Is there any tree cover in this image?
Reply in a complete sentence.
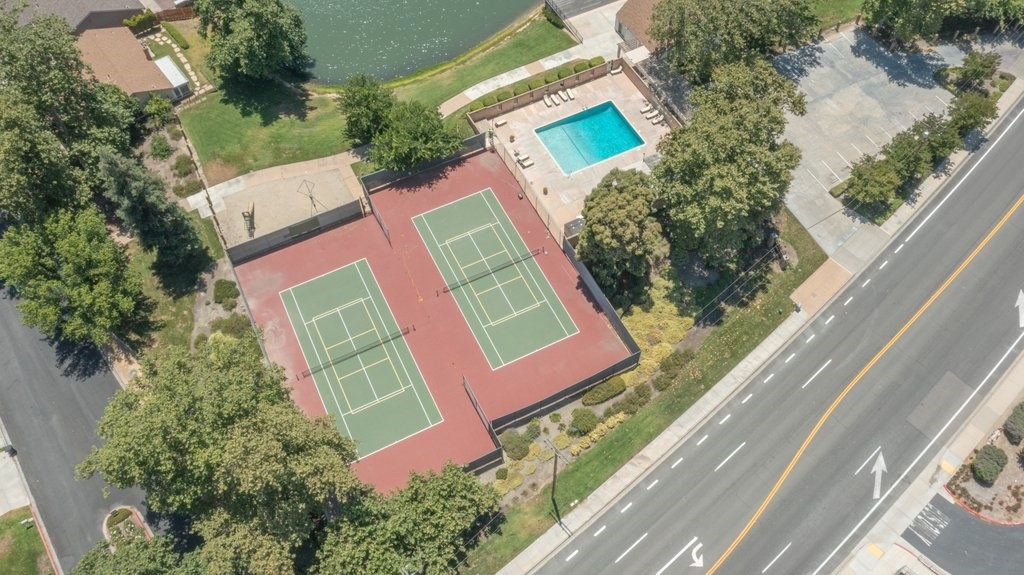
Yes, tree cover can be seen from above here.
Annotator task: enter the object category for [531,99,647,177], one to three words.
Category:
swimming pool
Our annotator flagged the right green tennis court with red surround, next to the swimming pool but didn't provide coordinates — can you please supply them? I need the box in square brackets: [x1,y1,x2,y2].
[367,148,632,433]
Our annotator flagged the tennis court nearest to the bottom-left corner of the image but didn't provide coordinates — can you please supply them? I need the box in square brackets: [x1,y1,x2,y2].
[233,211,500,527]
